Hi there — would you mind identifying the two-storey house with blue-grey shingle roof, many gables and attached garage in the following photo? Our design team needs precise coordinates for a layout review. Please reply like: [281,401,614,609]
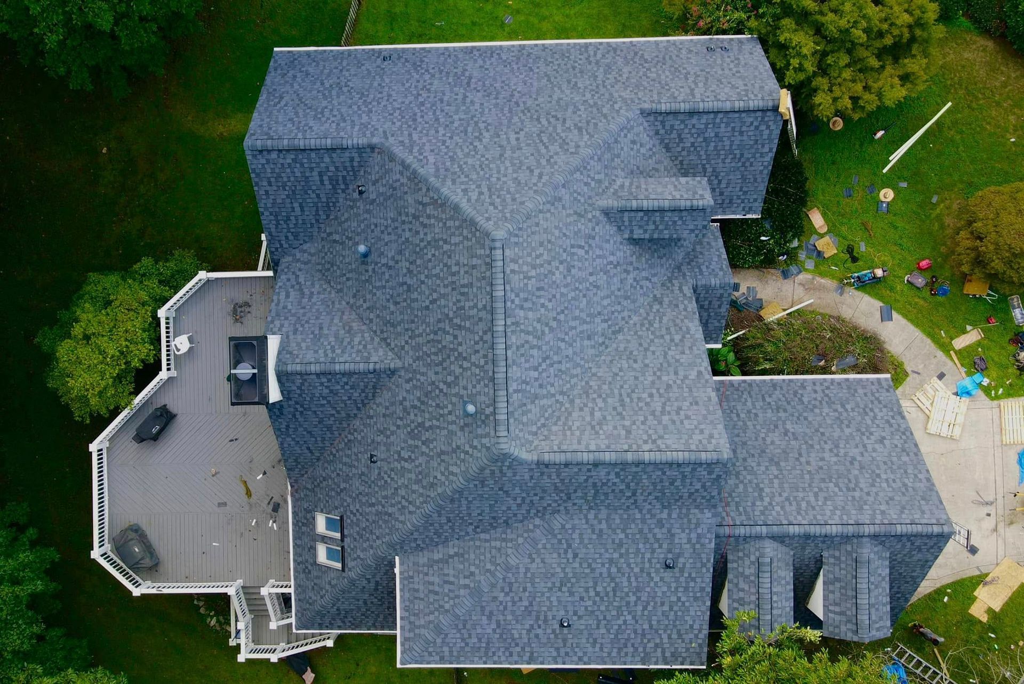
[229,33,954,670]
